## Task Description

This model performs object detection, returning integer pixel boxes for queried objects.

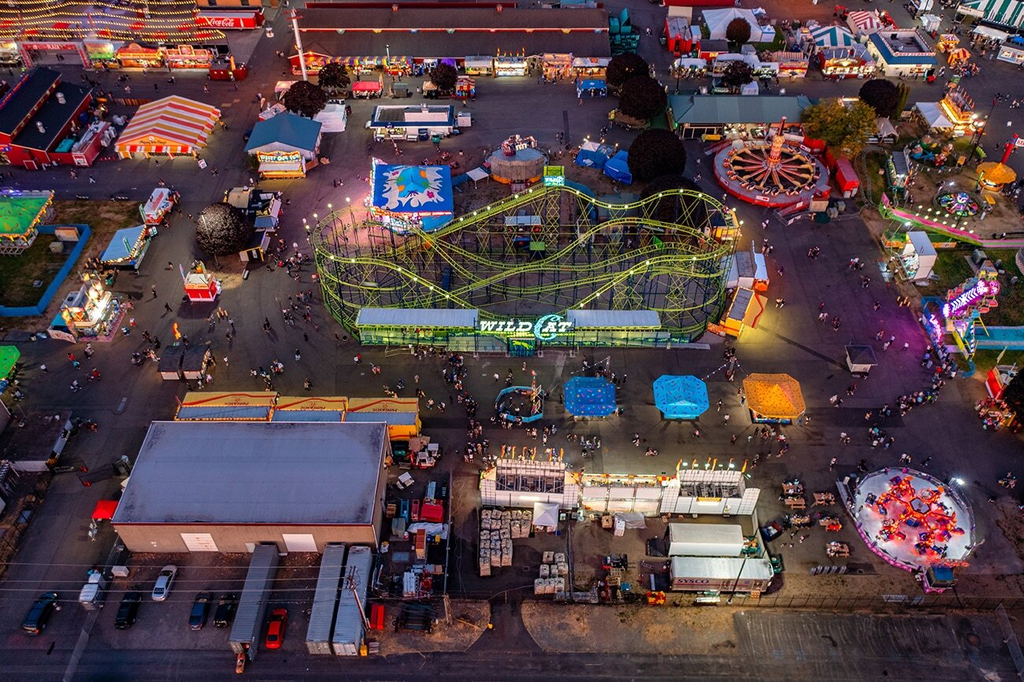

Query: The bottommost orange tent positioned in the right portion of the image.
[738,378,813,424]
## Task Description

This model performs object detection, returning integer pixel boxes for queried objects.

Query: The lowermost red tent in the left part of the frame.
[89,497,121,536]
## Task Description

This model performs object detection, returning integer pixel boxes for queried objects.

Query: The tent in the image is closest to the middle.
[561,376,620,423]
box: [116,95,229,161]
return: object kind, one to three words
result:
tent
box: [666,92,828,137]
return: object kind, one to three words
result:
building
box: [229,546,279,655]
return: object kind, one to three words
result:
trailer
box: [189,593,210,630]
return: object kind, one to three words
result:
car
